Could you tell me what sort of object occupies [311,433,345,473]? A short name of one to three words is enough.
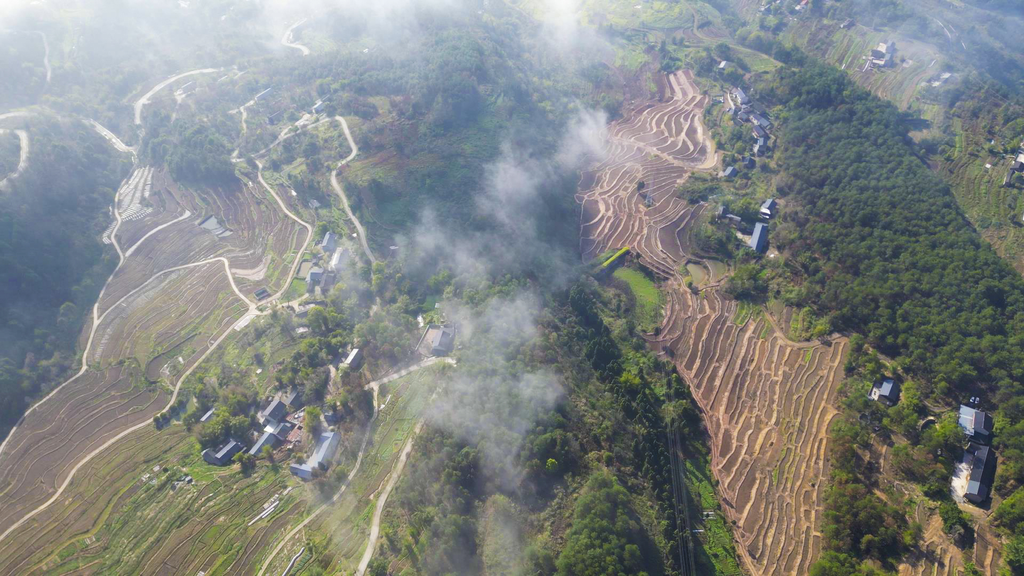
house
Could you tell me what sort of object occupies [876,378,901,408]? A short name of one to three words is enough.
house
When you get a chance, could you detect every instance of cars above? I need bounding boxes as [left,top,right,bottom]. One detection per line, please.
[973,397,982,405]
[968,396,977,405]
